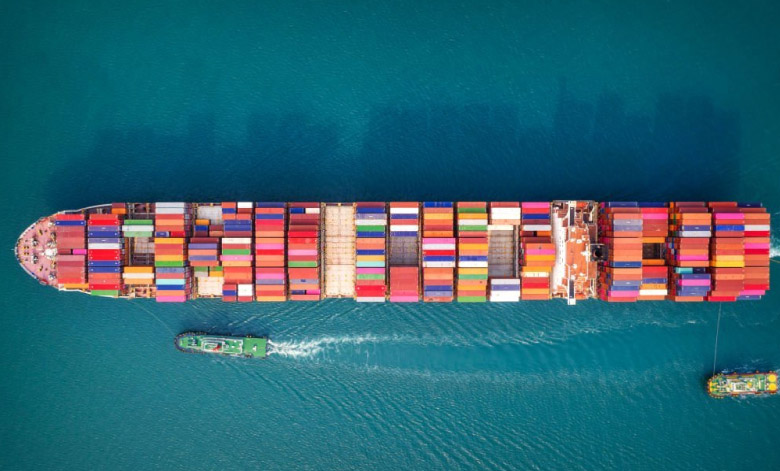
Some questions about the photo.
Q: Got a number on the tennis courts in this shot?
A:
0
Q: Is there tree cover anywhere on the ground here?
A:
No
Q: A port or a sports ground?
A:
port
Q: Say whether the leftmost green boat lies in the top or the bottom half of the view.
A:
bottom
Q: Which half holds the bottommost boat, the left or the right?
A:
right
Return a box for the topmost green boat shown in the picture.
[174,332,267,358]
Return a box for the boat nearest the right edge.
[708,372,780,397]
